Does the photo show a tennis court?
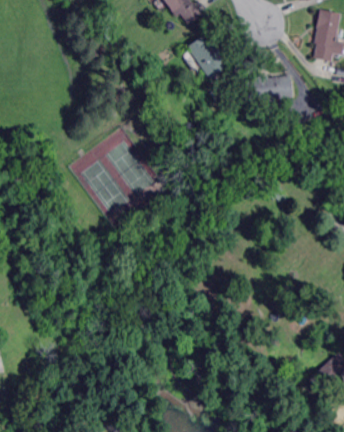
Yes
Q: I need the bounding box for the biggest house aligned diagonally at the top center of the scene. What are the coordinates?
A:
[189,38,222,76]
